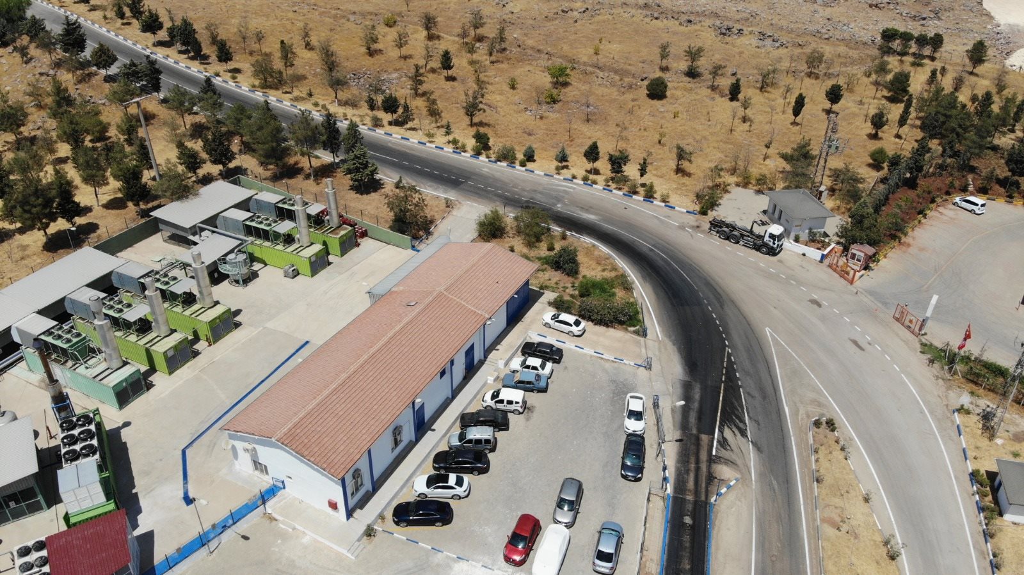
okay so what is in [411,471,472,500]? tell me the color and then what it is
white car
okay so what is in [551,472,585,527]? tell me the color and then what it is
gray car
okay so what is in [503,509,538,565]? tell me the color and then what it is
red car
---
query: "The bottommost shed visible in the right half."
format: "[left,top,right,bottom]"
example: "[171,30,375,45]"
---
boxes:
[987,458,1024,532]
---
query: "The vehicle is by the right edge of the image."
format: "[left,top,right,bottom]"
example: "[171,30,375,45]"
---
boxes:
[950,194,991,214]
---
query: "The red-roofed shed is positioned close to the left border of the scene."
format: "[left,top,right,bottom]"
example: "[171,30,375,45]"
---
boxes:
[43,507,143,575]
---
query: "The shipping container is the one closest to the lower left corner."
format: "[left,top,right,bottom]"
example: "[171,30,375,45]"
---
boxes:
[57,404,123,525]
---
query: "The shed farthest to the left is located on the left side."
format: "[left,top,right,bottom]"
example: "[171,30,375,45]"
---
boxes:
[0,415,48,519]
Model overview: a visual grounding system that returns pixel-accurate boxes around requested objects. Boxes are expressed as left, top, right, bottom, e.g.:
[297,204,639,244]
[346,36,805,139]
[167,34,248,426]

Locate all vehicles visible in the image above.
[445,422,498,453]
[479,384,530,415]
[713,219,788,256]
[541,313,588,337]
[503,509,538,565]
[551,472,585,527]
[593,516,626,574]
[458,407,510,431]
[624,393,648,436]
[511,354,558,377]
[519,340,566,362]
[621,433,648,481]
[411,471,472,500]
[950,194,991,214]
[432,447,491,476]
[390,497,455,528]
[500,369,550,393]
